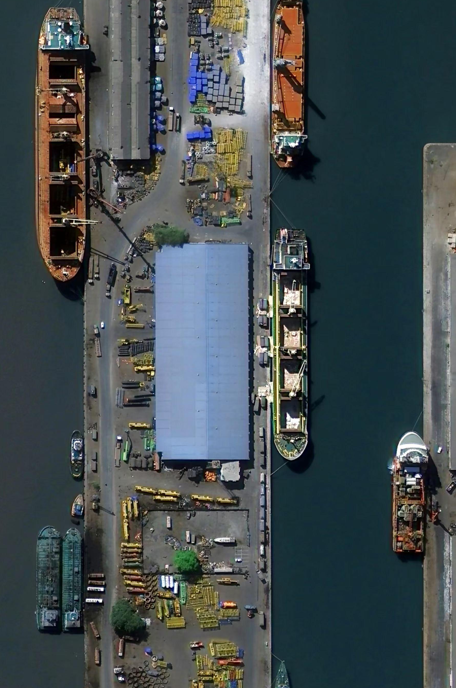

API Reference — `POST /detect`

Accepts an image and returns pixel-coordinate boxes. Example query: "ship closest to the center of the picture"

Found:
[270,229,310,461]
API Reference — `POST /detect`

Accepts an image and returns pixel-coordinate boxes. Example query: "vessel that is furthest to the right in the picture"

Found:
[388,432,428,552]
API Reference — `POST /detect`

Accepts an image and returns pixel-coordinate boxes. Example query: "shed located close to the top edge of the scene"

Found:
[108,0,150,159]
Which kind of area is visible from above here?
port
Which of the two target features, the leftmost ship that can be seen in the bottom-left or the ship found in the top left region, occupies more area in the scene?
the ship found in the top left region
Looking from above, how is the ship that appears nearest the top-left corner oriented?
from top to bottom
